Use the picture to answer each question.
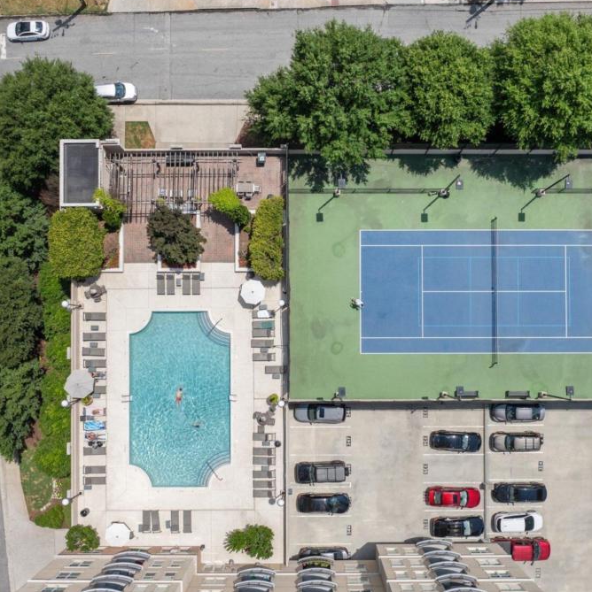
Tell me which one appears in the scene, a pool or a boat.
pool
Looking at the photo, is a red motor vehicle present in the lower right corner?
Yes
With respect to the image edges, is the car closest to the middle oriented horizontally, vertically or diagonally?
horizontally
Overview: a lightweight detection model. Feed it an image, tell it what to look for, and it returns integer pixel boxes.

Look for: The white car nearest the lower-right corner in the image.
[491,511,542,537]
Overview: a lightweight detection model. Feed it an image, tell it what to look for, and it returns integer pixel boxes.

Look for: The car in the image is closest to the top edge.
[7,18,52,43]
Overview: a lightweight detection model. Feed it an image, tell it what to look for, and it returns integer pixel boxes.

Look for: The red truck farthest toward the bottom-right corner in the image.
[484,538,548,566]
